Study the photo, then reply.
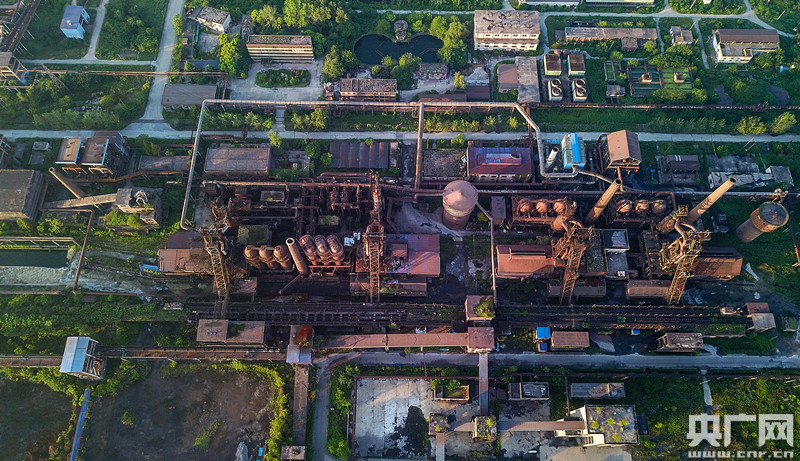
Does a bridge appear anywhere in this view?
Yes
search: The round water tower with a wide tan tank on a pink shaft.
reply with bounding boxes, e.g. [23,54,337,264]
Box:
[730,199,791,247]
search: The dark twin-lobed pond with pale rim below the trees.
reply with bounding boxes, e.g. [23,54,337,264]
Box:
[353,34,445,65]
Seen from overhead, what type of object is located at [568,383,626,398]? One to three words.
shed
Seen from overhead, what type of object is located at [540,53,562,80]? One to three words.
cooling tower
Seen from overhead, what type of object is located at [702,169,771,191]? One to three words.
house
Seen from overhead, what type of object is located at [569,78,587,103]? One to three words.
cooling tower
